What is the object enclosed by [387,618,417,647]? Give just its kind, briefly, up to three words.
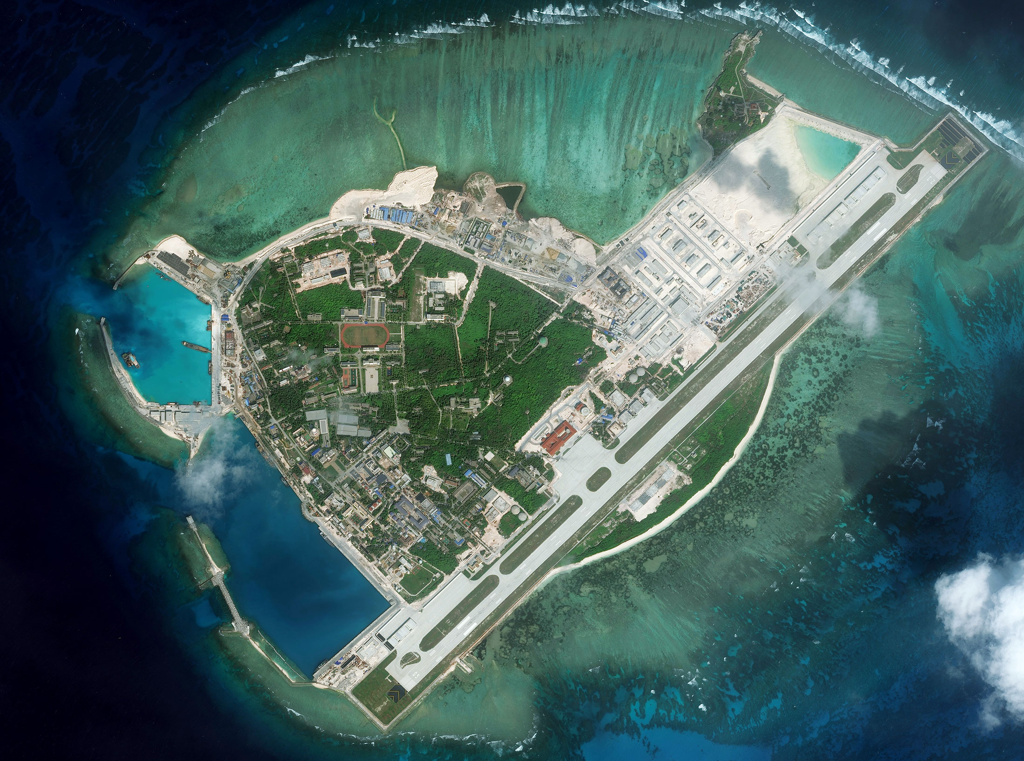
hangar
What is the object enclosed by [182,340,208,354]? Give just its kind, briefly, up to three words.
ship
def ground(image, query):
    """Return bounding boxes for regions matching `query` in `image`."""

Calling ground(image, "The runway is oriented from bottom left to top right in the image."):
[399,162,948,692]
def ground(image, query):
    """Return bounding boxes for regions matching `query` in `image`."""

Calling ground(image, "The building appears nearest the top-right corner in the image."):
[845,166,886,207]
